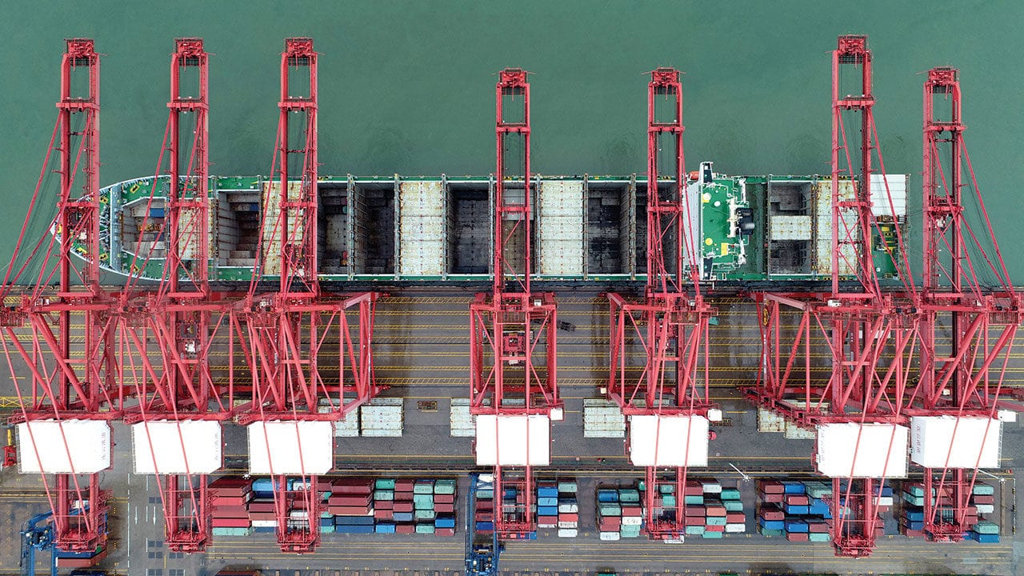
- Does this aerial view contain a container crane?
Yes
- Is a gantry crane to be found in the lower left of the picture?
Yes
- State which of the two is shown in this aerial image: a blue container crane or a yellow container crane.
blue container crane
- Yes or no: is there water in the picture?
Yes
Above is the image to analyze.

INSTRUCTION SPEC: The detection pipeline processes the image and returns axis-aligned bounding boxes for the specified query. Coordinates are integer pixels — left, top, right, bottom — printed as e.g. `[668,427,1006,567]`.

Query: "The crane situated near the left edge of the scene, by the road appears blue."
[24,503,109,576]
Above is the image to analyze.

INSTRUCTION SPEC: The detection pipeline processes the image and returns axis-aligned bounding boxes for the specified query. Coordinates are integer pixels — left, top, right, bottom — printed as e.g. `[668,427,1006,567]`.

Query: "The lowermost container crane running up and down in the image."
[466,457,504,576]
